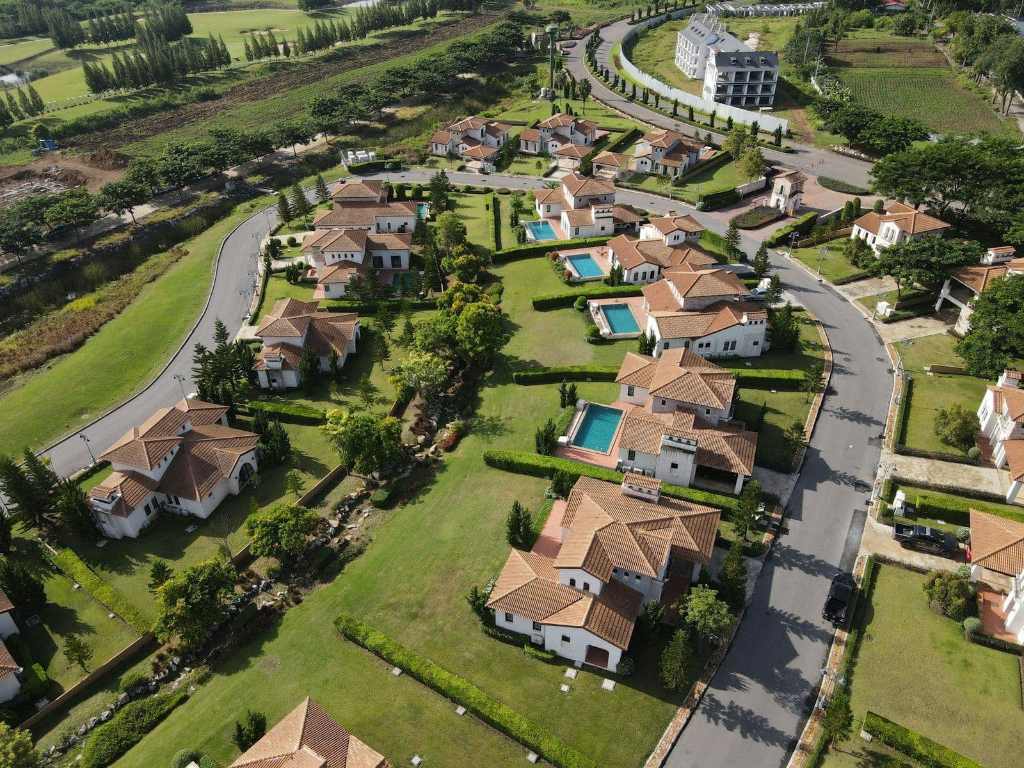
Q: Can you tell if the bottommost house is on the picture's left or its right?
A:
left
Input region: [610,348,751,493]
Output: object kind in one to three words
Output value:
house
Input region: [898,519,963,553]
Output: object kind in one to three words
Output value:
truck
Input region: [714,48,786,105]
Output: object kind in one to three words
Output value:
building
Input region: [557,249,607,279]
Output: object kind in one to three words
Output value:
swimming pool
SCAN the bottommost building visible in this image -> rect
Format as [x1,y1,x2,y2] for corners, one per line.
[223,694,396,768]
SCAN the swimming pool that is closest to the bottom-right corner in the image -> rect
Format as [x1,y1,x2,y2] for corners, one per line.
[555,391,626,454]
